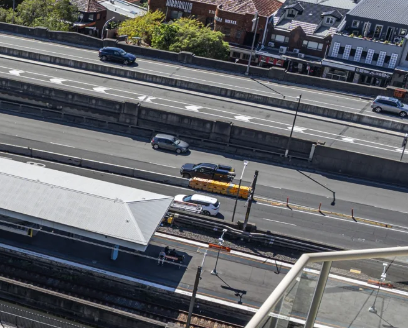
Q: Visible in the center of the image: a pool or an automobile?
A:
automobile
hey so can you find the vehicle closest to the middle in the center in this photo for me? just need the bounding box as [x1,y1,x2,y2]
[183,161,237,184]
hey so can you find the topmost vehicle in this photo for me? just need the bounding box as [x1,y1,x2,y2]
[98,47,137,66]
